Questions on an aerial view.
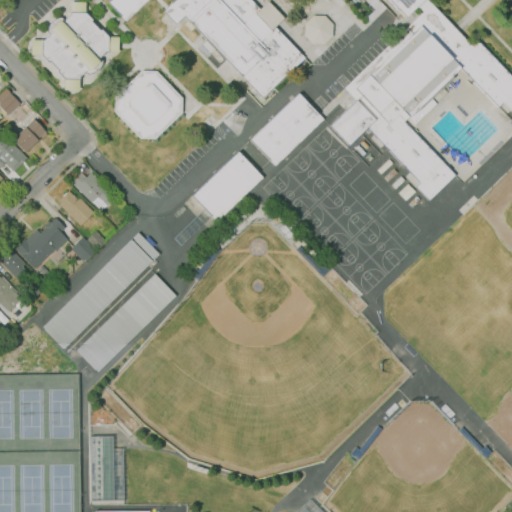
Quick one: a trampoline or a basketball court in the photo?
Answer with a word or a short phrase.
basketball court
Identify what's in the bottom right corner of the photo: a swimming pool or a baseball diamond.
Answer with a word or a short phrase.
baseball diamond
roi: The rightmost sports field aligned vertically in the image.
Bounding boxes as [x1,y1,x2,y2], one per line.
[383,168,512,448]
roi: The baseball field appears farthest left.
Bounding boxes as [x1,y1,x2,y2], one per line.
[108,222,410,476]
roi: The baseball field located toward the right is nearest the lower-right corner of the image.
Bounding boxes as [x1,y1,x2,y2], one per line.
[326,402,512,512]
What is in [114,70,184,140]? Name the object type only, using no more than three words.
building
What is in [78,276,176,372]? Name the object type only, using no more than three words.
shed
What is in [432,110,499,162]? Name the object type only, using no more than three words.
swimming pool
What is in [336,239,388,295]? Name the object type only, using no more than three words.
basketball court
